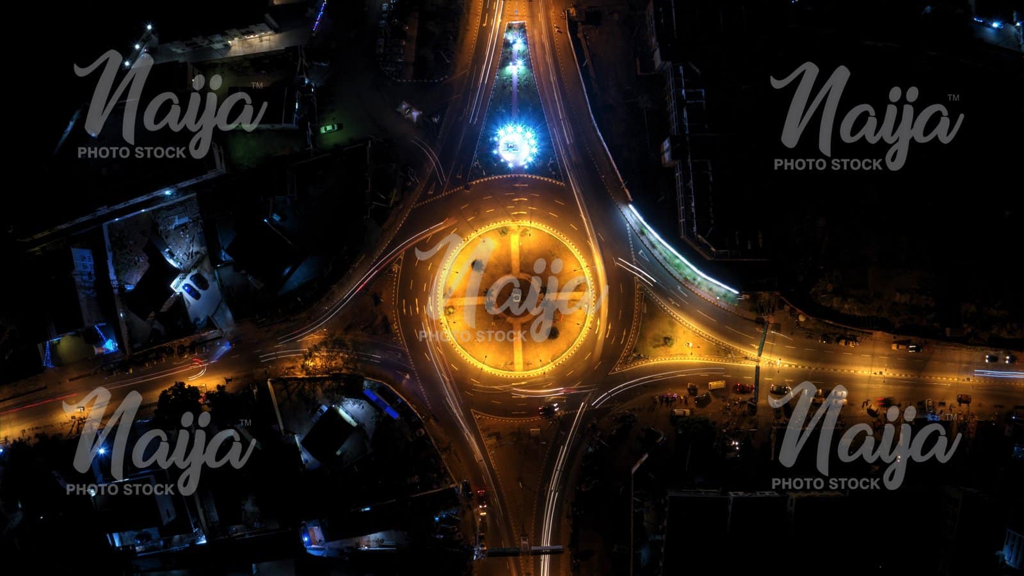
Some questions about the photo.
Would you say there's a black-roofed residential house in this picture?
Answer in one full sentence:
Yes, there's a black-roofed residential house down there.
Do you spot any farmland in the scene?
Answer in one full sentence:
No, no farmland is visible.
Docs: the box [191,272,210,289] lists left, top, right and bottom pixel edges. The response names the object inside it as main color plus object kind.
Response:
black car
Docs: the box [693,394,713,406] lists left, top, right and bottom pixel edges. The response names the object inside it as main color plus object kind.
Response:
black vehicle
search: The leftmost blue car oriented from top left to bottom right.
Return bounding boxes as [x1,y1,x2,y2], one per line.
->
[182,283,200,299]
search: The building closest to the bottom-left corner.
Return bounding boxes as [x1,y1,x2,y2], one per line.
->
[10,465,90,576]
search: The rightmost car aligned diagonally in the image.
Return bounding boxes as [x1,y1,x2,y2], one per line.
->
[864,405,882,419]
